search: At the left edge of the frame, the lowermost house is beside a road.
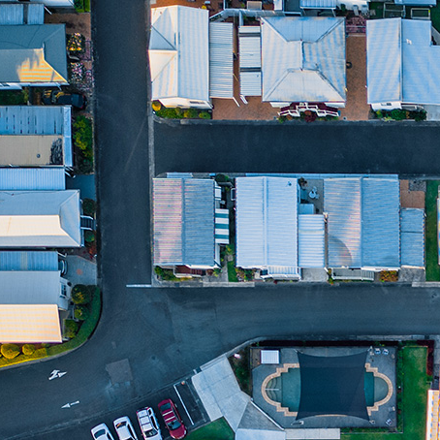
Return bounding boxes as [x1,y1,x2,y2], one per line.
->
[0,271,70,343]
